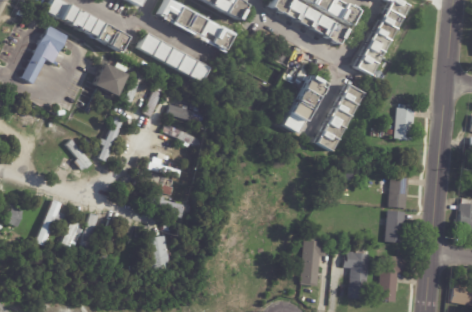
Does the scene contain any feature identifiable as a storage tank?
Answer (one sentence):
No, I can't see a single storage tank in this photo.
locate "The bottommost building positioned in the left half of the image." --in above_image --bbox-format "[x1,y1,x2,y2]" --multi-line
[154,236,170,268]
